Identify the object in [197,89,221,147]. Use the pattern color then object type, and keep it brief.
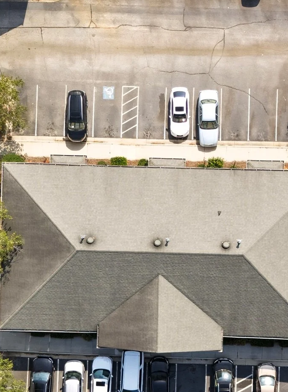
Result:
white car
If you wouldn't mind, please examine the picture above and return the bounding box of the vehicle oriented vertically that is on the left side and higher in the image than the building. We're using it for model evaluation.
[63,89,89,143]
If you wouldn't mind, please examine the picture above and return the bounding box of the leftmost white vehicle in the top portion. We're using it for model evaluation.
[168,86,192,138]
